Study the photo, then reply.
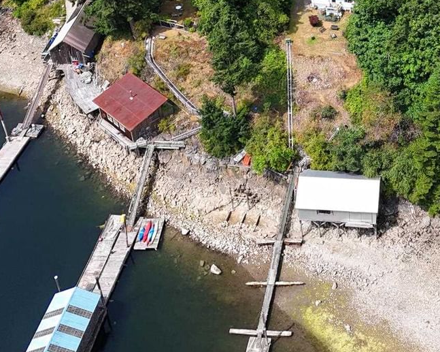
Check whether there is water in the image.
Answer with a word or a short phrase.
Yes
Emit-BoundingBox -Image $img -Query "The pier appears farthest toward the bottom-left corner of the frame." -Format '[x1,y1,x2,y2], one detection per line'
[79,215,137,291]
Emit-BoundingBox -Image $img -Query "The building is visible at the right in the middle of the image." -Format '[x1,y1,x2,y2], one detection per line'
[294,175,382,233]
